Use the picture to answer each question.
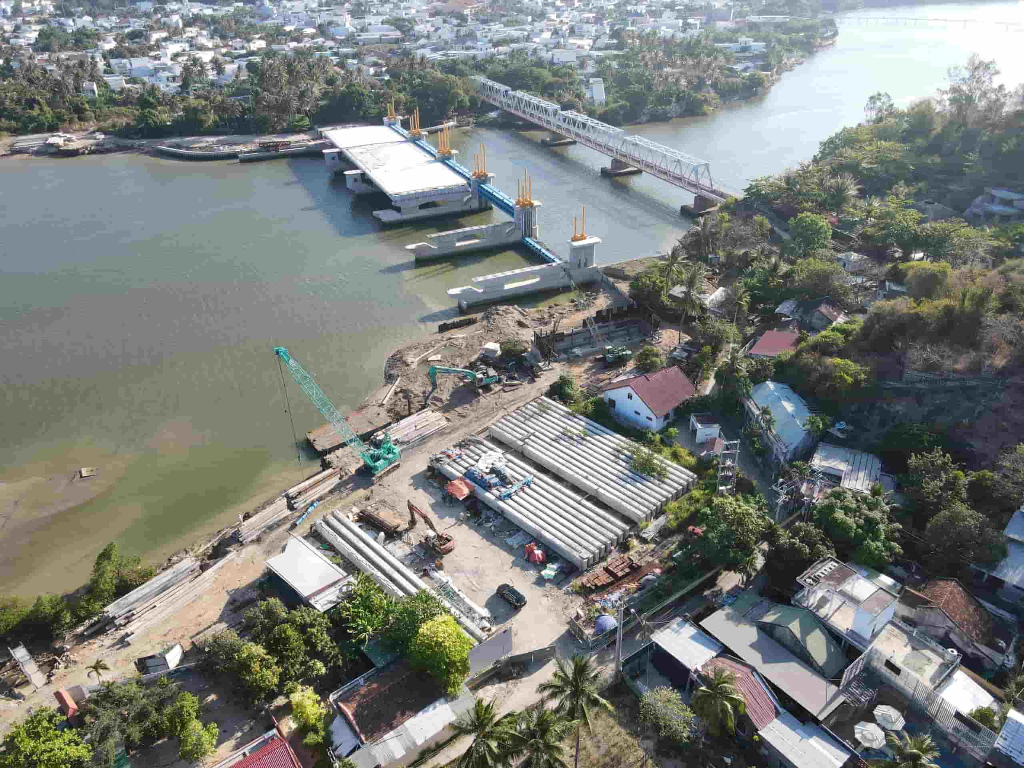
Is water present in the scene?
Yes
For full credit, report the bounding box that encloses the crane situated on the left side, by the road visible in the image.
[272,352,409,488]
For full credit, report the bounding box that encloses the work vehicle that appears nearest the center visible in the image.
[434,354,504,389]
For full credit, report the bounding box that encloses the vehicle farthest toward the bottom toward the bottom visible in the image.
[493,580,531,612]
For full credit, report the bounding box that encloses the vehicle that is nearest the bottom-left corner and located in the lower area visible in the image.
[409,500,460,558]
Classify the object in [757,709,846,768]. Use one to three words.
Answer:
house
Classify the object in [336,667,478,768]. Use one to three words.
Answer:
house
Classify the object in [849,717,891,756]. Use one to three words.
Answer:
umbrella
